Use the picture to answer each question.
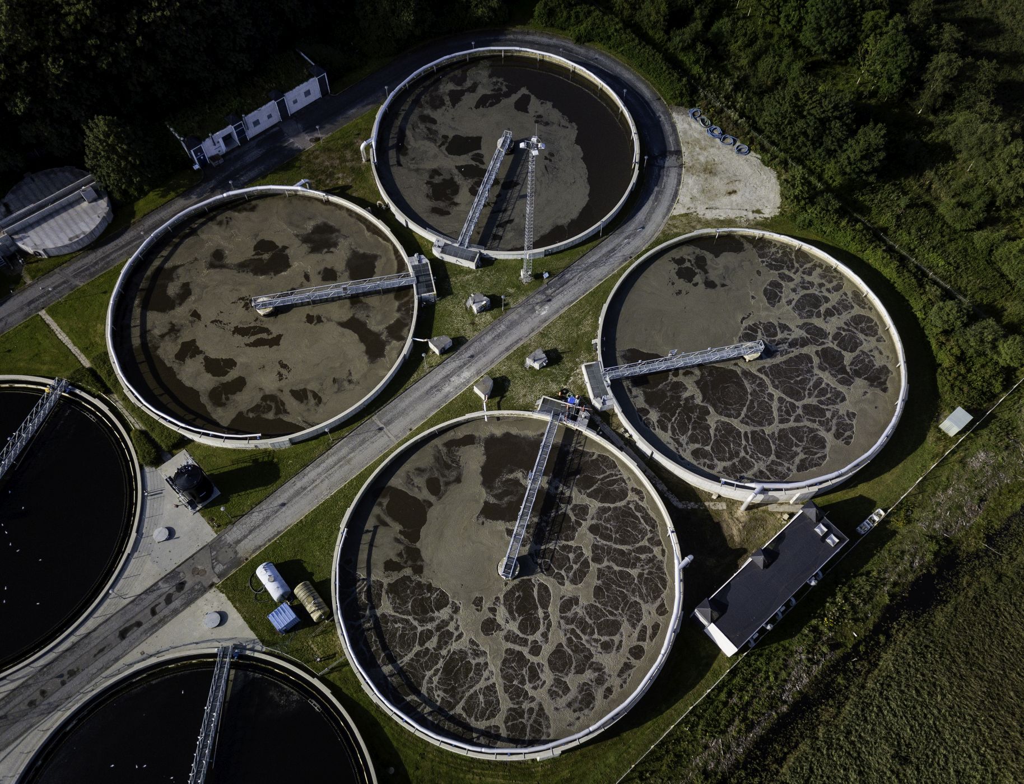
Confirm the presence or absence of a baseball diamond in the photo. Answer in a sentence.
No, the photo shows no baseball diamond.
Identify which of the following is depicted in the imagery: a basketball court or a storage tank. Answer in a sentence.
There is a storage tank in the scene.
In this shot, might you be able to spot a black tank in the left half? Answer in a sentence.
Yes, a black tank is visible in the left half.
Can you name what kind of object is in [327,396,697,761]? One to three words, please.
storage tank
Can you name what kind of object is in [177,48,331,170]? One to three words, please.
building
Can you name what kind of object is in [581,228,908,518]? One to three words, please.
storage tank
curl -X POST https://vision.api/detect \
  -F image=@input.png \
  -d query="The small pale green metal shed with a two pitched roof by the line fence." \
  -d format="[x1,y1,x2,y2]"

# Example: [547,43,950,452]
[934,405,974,442]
